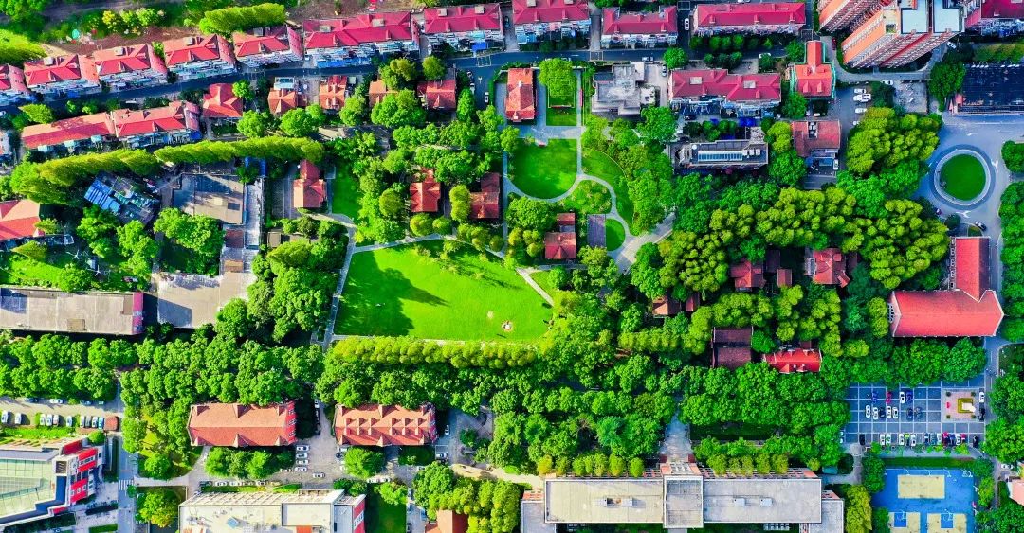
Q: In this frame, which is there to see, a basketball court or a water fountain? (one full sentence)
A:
Visible in the photo is a basketball court.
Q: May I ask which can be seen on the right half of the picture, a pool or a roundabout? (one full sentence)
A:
The feature located on the right half of the picture is a roundabout.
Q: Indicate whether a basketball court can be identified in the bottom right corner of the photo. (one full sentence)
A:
Yes, a basketball court is visible in the bottom right corner of the photo.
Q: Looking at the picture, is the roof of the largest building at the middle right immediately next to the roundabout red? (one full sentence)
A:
Yes, the roof of the largest building at the middle right immediately next to the roundabout appears red.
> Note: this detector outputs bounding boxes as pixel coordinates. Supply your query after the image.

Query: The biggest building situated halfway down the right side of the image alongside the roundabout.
[887,236,1004,338]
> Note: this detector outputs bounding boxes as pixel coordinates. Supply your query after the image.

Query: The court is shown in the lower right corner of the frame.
[873,468,977,533]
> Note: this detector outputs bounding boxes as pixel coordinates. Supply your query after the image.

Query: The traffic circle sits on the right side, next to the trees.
[929,142,997,211]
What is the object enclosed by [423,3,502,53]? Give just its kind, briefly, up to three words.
building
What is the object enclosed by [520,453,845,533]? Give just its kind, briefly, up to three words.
building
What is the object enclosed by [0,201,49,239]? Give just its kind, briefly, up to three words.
house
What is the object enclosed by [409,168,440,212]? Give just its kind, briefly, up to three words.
house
